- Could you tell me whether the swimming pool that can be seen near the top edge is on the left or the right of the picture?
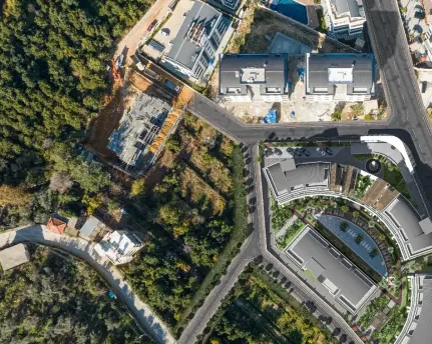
right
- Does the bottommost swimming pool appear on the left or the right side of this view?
right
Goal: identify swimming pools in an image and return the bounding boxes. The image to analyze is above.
[269,0,308,26]
[315,213,387,278]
